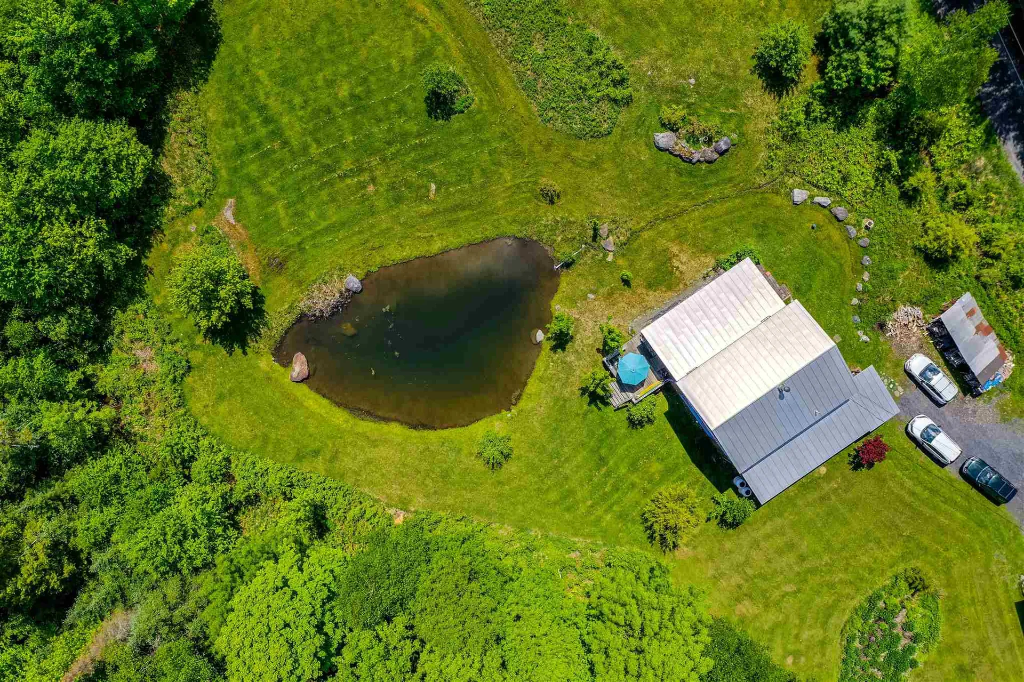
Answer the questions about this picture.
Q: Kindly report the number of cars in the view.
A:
3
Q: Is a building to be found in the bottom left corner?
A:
No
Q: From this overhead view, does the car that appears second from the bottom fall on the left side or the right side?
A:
right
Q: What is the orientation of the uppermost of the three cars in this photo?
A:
on a diagonal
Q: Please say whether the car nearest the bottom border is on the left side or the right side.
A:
right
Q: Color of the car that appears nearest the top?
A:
white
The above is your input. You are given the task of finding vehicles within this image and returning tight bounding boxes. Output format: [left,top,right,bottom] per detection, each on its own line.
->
[958,456,1018,507]
[905,414,963,466]
[902,353,960,405]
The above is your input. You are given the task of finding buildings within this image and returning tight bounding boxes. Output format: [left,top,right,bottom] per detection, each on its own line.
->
[640,257,899,507]
[926,290,1009,387]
